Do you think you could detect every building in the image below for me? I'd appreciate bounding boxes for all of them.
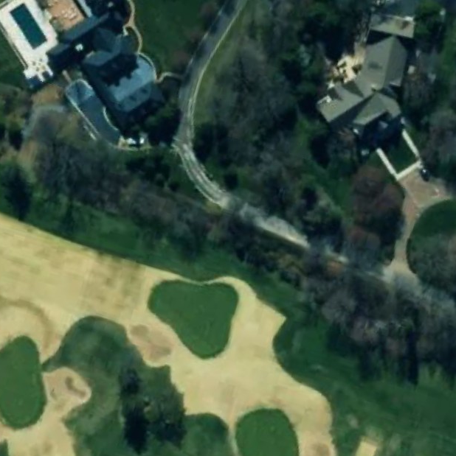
[313,0,421,134]
[44,0,159,112]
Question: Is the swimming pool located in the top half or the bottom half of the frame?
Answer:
top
